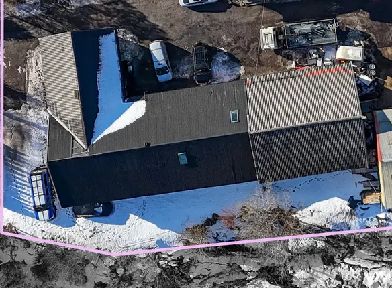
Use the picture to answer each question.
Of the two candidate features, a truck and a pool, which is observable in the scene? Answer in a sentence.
It is a truck that can be seen here.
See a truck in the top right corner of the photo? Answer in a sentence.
Yes, a truck is visible in the top right corner of the photo.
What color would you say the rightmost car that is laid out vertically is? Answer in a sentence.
In this view, the rightmost car that is laid out vertically is black.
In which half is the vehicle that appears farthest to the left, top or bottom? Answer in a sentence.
It is in the bottom half that the vehicle that appears farthest to the left appears.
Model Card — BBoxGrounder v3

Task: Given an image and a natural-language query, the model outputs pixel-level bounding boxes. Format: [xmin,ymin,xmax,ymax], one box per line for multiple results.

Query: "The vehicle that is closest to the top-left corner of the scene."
[148,40,173,81]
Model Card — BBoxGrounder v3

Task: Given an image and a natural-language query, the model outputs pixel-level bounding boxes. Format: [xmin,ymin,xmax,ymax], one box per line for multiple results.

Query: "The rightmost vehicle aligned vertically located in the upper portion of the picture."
[193,43,213,85]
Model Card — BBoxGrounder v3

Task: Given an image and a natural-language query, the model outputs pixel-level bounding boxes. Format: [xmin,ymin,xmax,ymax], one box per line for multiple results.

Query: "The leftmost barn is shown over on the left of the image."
[37,27,258,209]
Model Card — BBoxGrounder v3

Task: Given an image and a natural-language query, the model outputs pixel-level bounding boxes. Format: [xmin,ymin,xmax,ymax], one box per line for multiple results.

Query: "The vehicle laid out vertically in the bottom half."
[30,171,56,219]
